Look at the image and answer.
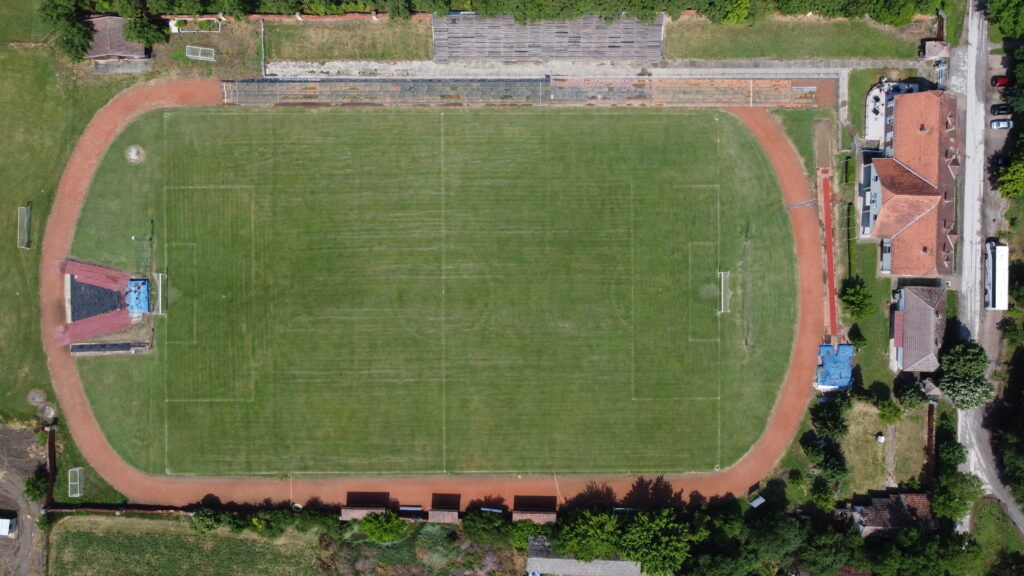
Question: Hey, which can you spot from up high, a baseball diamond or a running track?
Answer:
running track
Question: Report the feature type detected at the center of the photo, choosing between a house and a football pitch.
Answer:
football pitch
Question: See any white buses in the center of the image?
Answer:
No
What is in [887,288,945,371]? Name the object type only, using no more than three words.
house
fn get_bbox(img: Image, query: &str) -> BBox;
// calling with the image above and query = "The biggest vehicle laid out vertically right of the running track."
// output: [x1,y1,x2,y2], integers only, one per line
[984,242,1008,310]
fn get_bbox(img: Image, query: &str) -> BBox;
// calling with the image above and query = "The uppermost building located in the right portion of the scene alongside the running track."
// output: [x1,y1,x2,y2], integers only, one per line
[857,90,959,275]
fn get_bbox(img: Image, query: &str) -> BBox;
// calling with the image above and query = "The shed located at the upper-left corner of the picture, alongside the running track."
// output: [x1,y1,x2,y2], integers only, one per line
[86,14,152,74]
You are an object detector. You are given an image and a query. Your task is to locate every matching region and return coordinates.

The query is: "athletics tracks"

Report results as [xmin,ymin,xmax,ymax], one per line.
[40,79,837,507]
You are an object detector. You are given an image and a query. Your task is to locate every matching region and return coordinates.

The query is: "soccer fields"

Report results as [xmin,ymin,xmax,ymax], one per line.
[69,105,799,476]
